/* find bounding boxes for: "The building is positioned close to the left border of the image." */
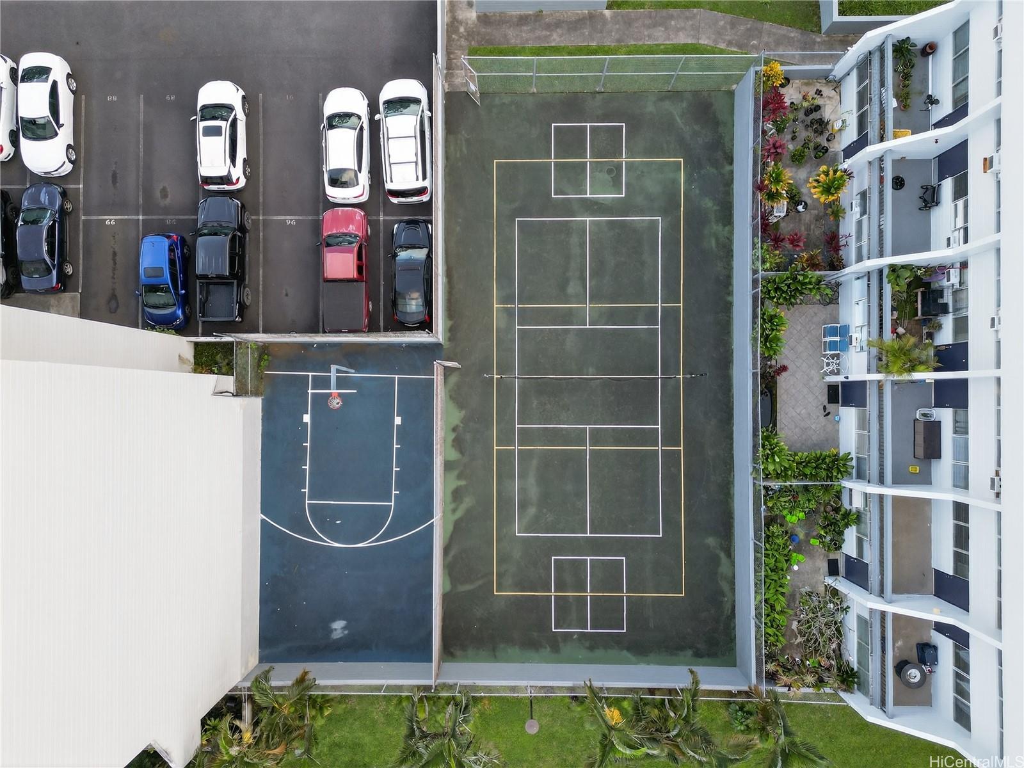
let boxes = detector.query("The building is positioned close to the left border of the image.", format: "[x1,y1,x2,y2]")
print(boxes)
[0,309,259,768]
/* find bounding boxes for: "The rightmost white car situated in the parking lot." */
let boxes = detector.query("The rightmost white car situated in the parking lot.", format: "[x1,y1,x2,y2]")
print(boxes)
[375,79,430,205]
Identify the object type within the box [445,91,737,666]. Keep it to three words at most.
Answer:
sports court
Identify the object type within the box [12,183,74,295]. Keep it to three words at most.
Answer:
car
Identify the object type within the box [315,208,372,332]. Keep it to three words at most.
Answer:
truck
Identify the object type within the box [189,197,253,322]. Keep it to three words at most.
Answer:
truck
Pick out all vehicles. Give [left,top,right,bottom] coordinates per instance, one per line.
[190,81,250,193]
[317,87,371,206]
[315,208,372,332]
[383,219,434,328]
[135,233,192,332]
[375,79,430,205]
[0,55,21,165]
[0,192,21,302]
[12,183,74,295]
[189,197,253,322]
[12,53,78,177]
